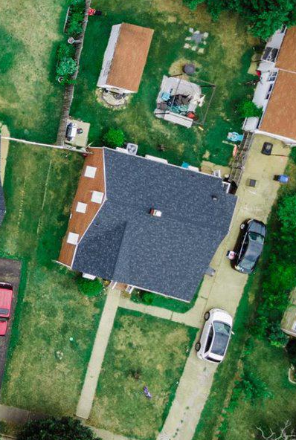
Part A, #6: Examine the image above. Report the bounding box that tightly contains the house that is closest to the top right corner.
[225,28,296,144]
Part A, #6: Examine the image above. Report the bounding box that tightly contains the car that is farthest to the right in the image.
[224,216,266,276]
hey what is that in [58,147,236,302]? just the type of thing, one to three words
house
